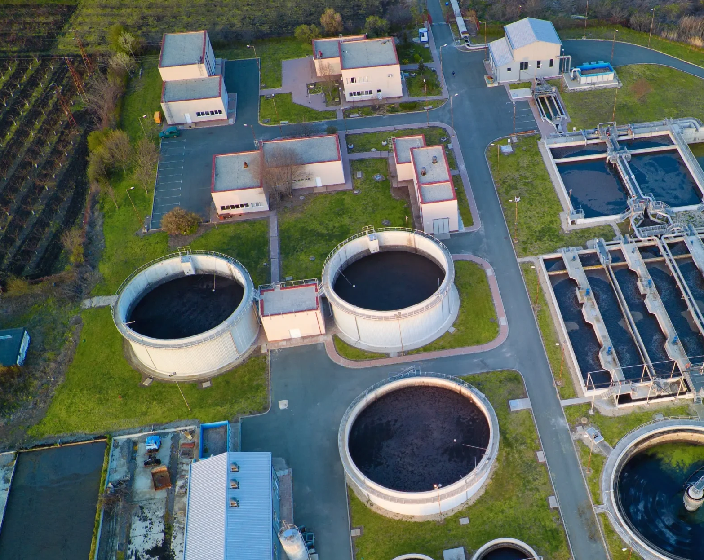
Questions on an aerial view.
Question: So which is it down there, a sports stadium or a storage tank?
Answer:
storage tank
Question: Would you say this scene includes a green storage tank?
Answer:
No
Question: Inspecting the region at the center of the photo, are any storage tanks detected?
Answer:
Yes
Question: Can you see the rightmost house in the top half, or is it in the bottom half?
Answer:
top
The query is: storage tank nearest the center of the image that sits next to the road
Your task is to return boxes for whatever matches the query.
[319,221,460,352]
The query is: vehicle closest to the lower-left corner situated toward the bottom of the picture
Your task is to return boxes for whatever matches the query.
[139,429,162,470]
